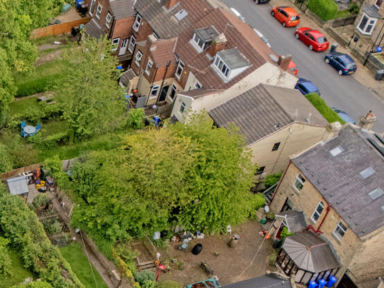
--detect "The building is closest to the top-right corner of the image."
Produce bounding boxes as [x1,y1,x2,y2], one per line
[351,0,384,56]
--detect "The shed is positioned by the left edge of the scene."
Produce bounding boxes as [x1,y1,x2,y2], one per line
[7,177,28,200]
